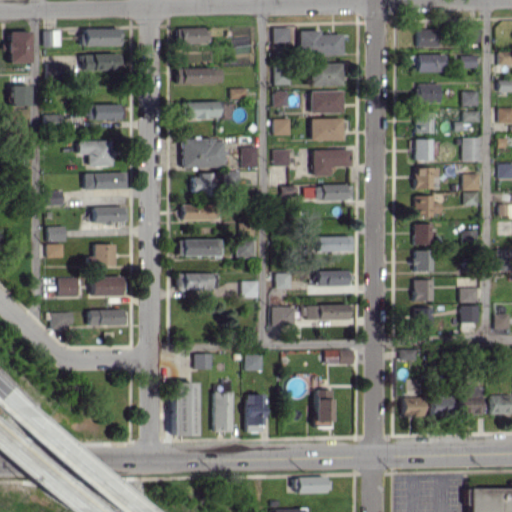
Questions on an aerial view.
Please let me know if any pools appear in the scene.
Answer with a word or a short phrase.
Yes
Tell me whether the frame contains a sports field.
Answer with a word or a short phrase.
No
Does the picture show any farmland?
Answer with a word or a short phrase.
No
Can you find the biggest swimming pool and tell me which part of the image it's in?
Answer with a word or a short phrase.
bottom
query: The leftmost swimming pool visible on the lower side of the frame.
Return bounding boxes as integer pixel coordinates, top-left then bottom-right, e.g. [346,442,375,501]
[285,376,310,400]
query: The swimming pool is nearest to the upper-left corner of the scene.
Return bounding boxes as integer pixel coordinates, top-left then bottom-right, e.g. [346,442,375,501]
[232,108,248,123]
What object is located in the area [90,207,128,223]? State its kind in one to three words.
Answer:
house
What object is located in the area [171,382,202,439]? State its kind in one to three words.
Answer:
building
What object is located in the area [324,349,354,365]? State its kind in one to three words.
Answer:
building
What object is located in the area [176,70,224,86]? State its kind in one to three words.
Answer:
house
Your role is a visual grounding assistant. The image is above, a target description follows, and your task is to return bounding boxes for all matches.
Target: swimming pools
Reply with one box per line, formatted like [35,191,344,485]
[285,376,310,400]
[396,368,410,381]
[444,164,458,177]
[288,94,301,108]
[232,108,248,123]
[332,206,344,218]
